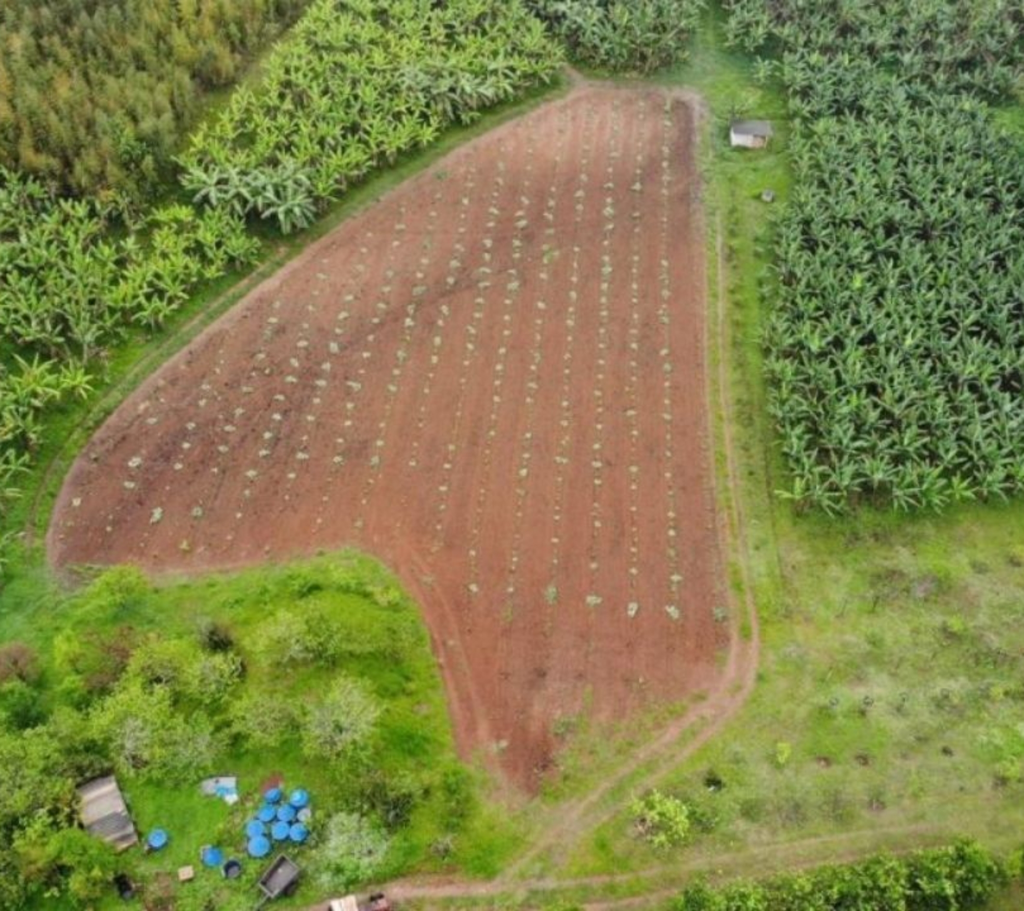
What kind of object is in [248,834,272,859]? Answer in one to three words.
water tank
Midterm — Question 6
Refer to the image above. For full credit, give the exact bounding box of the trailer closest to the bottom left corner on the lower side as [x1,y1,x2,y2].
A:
[253,853,300,909]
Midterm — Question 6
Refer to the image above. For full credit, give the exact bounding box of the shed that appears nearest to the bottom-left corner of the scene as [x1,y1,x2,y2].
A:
[84,772,151,856]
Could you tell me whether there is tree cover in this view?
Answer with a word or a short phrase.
Yes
